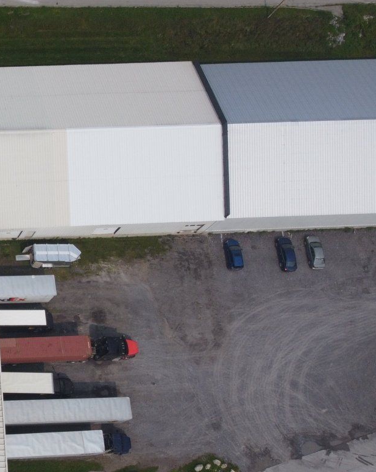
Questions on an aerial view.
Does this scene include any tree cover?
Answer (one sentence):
No, tree cover can't be seen anywhere here.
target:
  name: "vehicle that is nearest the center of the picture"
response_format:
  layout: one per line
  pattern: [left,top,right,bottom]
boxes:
[223,239,247,270]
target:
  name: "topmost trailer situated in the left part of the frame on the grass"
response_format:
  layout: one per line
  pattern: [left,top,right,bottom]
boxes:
[11,244,85,269]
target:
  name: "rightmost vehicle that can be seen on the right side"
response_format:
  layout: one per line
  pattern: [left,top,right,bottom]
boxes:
[304,236,328,269]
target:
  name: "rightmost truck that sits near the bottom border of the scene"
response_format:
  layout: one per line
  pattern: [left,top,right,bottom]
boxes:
[103,425,133,453]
